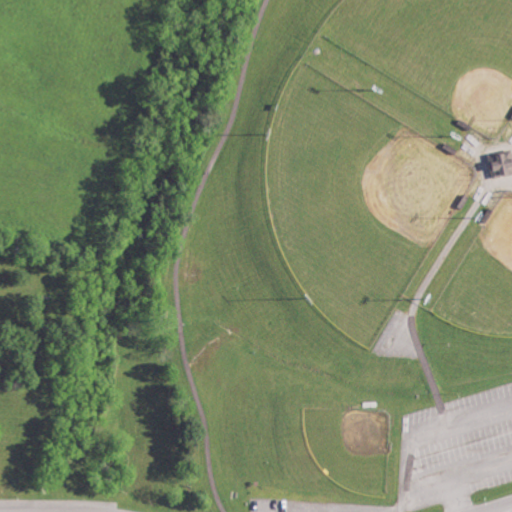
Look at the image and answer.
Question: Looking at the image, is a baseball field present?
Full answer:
Yes, this view includes a baseball field.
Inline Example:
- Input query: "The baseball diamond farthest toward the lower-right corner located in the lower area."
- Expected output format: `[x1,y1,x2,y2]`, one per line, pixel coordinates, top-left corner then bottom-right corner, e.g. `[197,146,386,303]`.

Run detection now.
[304,408,390,498]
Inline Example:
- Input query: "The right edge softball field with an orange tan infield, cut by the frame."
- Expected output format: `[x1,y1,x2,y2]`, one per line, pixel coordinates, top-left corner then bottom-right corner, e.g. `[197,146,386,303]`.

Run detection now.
[432,192,512,336]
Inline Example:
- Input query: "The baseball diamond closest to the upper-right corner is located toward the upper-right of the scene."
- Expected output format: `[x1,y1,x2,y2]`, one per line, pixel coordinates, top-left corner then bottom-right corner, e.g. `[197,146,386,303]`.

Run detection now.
[320,0,512,142]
